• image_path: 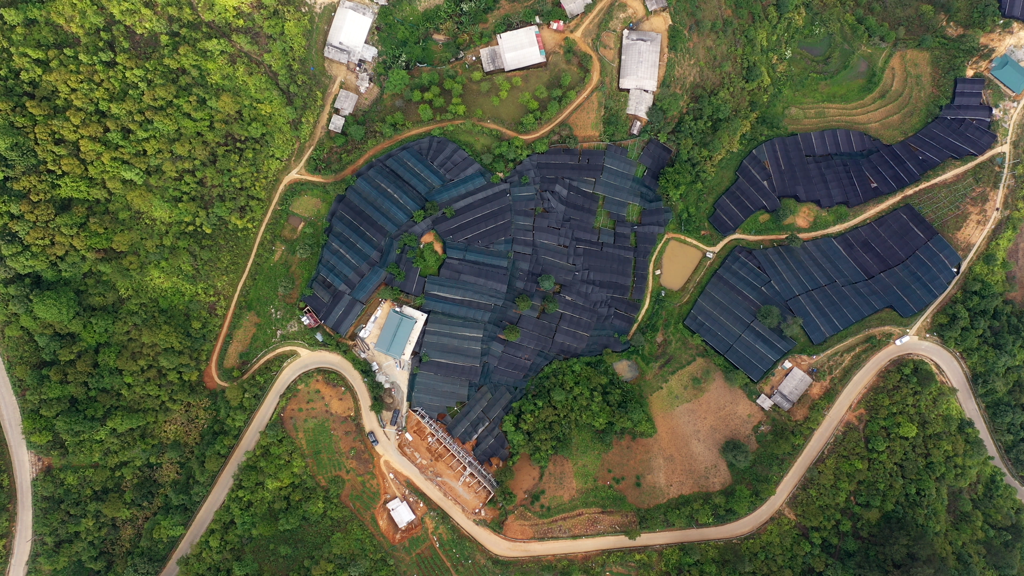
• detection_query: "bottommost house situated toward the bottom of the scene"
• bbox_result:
[386,497,415,528]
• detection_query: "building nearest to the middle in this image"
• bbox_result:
[374,309,416,360]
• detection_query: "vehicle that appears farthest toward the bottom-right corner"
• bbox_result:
[896,334,913,346]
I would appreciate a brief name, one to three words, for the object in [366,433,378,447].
vehicle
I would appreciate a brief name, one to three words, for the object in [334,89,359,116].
barn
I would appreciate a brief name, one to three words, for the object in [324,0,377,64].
house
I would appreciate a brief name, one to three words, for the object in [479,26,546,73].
house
